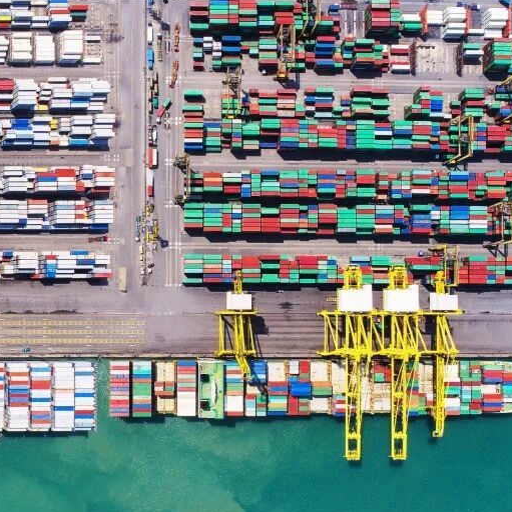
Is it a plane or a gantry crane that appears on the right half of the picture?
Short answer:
gantry crane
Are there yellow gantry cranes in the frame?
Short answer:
Yes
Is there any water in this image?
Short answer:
Yes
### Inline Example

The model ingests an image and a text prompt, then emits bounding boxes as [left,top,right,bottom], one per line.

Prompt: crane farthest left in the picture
[172,154,191,204]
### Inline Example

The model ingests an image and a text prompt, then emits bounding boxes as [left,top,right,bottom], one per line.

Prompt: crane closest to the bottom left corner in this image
[205,265,260,395]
